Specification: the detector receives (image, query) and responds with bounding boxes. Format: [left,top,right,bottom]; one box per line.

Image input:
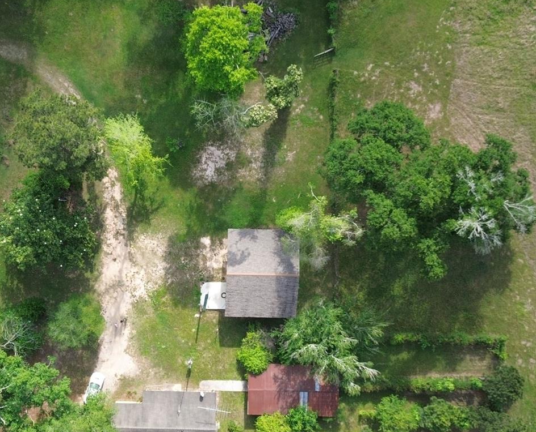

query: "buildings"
[246,364,338,417]
[225,229,299,317]
[106,389,217,432]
